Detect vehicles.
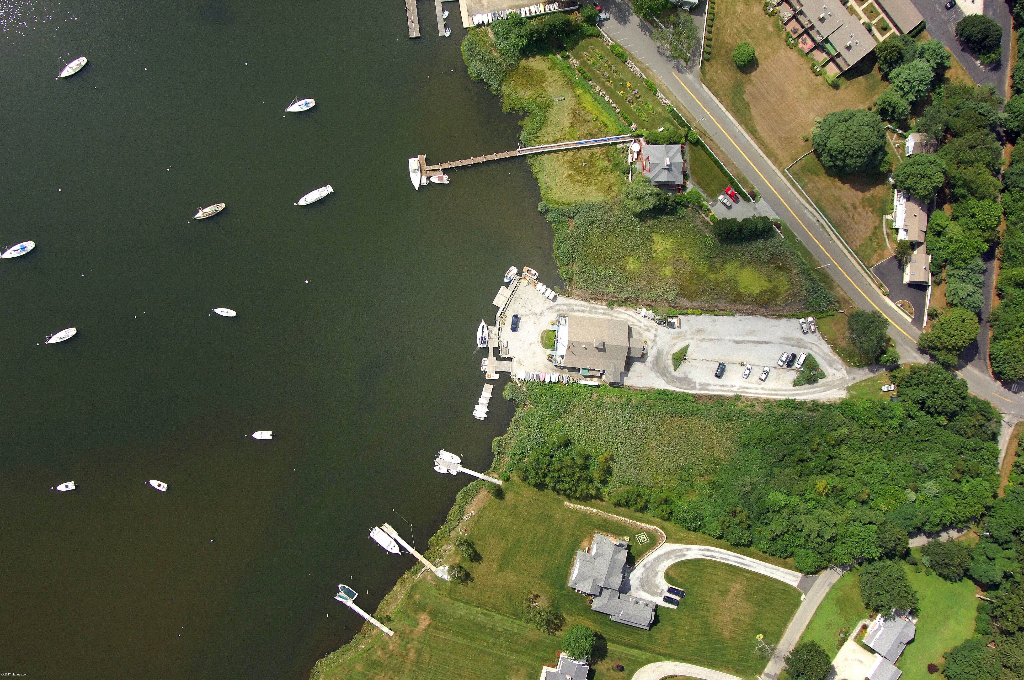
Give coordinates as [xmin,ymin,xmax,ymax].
[944,0,957,11]
[666,586,686,598]
[510,314,519,331]
[725,187,740,203]
[795,352,807,368]
[718,195,732,209]
[777,351,789,367]
[662,595,680,606]
[807,317,816,333]
[798,318,808,334]
[742,364,752,378]
[785,352,797,368]
[714,362,726,379]
[596,12,610,21]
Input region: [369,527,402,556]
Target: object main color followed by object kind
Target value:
white boat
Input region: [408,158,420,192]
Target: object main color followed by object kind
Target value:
white boat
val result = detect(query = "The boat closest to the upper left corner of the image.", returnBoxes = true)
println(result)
[58,57,89,77]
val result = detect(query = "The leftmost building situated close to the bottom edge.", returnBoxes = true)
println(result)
[540,652,589,680]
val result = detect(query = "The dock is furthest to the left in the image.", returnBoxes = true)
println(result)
[336,592,394,636]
